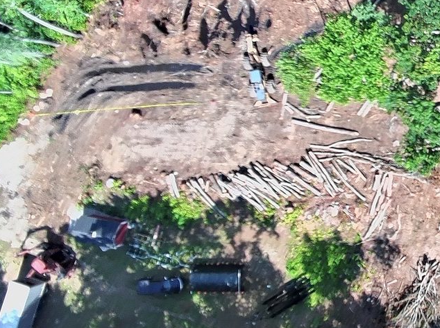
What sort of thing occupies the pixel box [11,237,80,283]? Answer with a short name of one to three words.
work vehicle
